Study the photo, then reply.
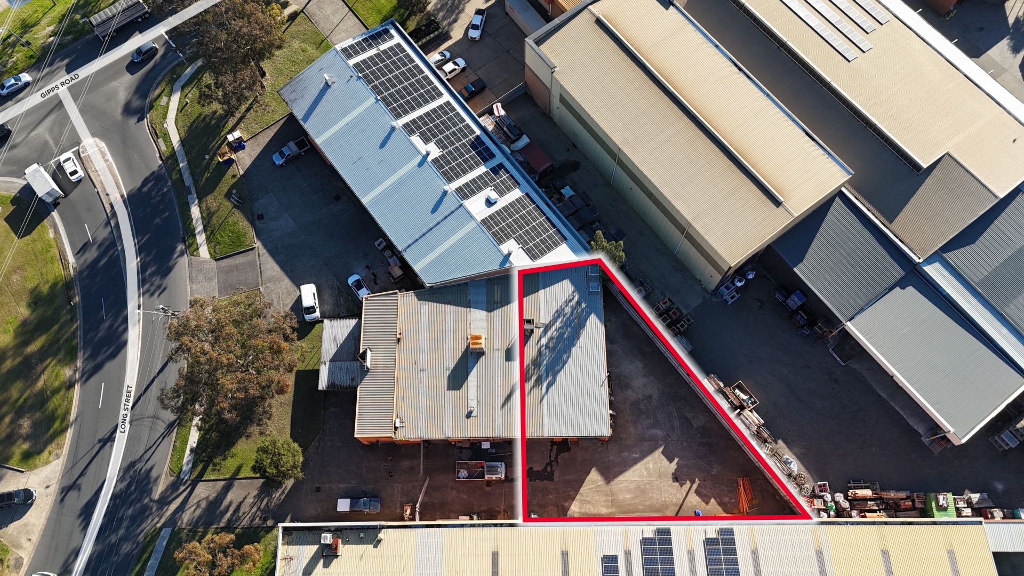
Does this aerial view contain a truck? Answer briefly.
Yes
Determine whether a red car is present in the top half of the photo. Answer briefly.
No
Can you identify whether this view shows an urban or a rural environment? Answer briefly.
urban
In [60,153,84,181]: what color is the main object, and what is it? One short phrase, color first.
white car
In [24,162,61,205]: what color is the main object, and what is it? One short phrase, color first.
white truck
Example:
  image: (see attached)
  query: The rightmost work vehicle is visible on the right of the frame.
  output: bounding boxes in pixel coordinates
[788,289,812,312]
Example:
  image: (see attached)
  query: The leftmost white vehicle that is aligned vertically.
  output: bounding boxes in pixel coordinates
[300,281,320,322]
